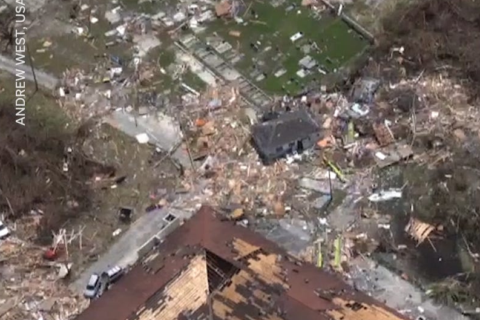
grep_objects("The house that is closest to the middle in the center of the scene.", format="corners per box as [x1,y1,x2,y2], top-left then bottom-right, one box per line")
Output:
[249,106,323,161]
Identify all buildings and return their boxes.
[75,205,415,320]
[249,106,323,161]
